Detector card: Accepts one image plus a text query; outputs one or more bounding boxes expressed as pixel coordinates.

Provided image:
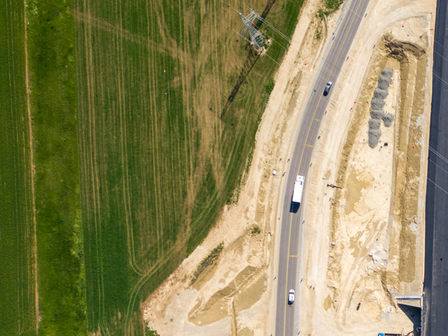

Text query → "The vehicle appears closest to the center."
[289,174,303,204]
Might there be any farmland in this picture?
Yes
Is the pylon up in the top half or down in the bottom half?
top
